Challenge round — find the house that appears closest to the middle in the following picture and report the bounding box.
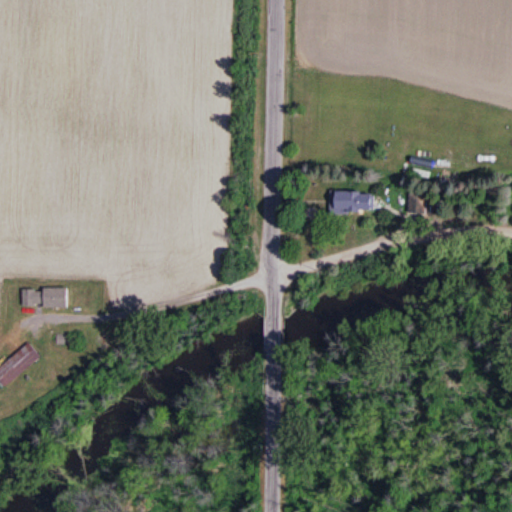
[331,190,375,214]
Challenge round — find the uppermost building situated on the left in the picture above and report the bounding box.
[22,287,69,309]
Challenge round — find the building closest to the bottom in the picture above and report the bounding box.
[0,342,40,386]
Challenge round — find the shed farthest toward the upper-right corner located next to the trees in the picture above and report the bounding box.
[408,191,424,214]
